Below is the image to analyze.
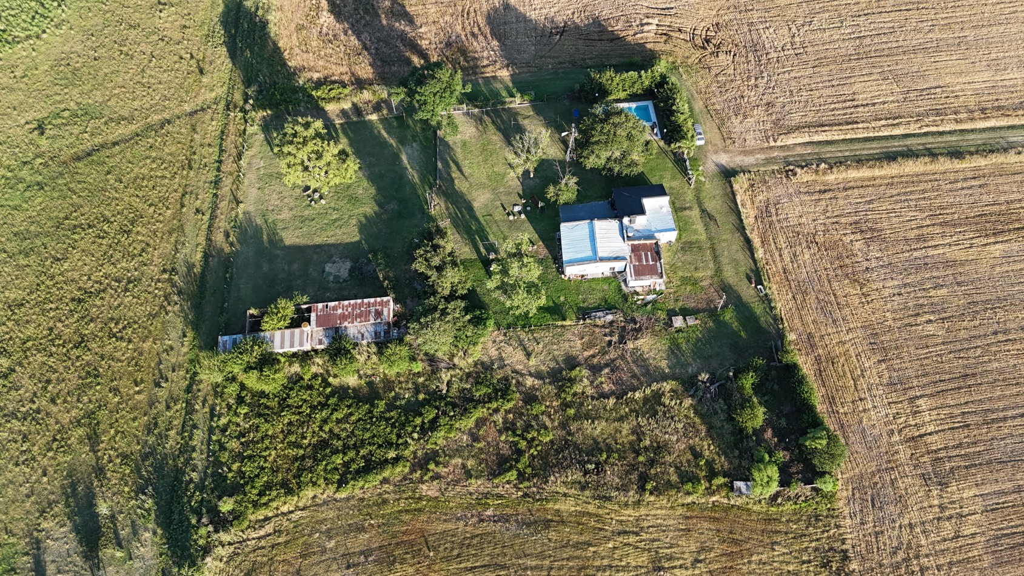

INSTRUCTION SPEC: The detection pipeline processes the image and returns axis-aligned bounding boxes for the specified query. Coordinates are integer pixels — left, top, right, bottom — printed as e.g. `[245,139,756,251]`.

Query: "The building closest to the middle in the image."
[558,184,677,290]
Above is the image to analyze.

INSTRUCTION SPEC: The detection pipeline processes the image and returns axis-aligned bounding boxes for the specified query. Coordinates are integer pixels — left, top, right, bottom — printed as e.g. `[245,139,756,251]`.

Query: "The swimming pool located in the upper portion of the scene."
[593,100,662,139]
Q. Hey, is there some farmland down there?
Yes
